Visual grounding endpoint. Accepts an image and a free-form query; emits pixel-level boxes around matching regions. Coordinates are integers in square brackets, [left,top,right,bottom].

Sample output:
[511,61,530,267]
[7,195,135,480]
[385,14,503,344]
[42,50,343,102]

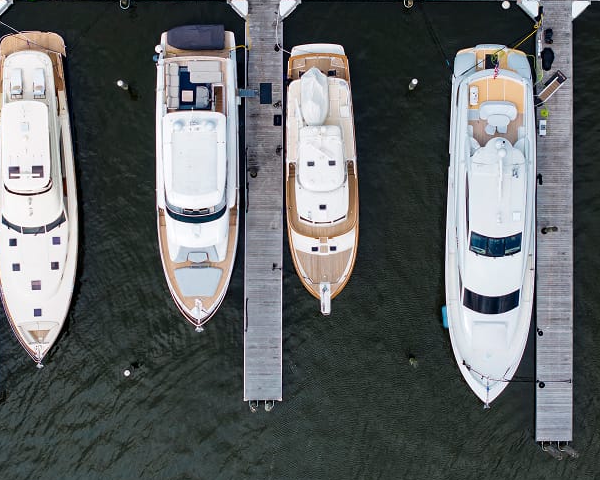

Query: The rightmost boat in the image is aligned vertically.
[444,45,538,412]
